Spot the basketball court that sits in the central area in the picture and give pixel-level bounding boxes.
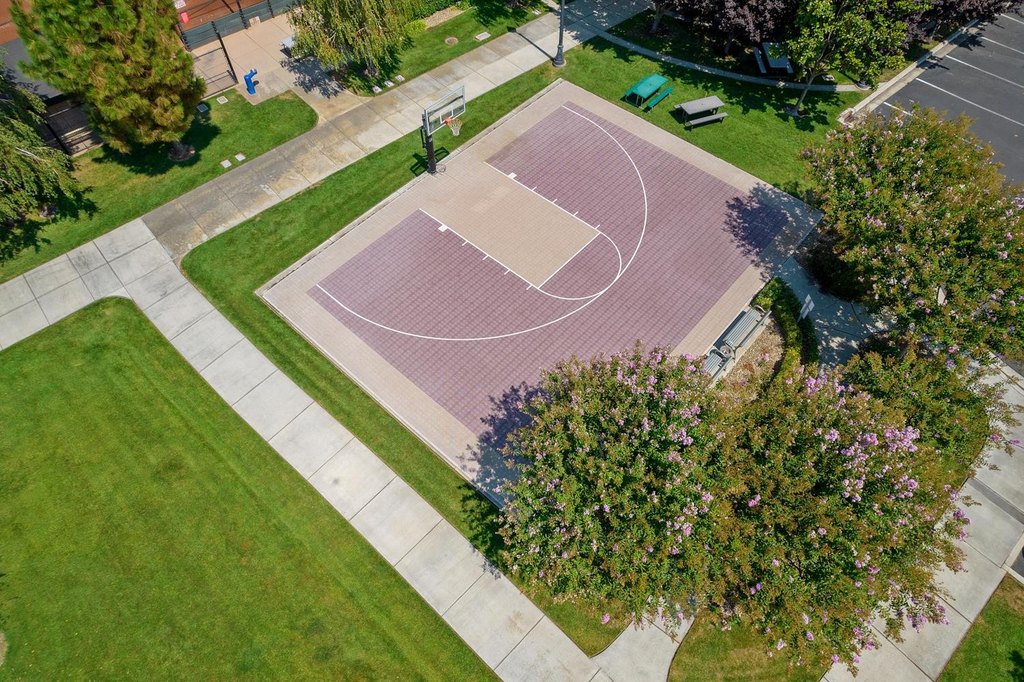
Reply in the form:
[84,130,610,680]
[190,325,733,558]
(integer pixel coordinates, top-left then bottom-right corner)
[255,78,824,539]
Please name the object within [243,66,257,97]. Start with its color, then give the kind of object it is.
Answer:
blue fountain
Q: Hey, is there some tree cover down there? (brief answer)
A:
Yes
